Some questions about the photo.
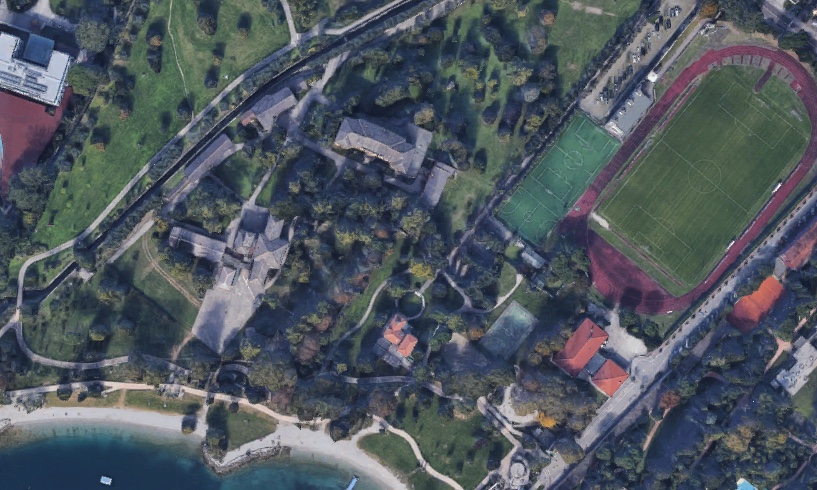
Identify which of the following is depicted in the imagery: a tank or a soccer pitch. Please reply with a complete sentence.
There is a soccer pitch in the scene.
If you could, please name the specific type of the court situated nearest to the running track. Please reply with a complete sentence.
I'd identify the court situated nearest to the running track as a tennis court.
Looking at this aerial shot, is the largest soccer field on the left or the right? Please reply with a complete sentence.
It is on the right.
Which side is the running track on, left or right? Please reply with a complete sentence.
You can find the running track on the right side of the picture.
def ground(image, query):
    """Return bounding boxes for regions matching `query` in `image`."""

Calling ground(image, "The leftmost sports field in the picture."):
[498,112,622,246]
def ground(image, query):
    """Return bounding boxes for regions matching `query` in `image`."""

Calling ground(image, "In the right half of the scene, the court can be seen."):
[480,301,538,359]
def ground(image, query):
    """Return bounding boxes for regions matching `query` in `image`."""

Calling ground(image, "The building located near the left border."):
[0,33,74,105]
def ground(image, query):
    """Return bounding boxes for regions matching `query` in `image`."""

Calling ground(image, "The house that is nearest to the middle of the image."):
[420,163,457,208]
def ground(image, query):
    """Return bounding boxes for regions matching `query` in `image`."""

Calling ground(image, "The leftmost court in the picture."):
[0,86,74,197]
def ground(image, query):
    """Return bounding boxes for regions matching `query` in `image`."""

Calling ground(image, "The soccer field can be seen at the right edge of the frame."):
[590,66,815,296]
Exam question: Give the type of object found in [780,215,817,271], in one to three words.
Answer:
house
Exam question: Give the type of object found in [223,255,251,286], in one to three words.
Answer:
building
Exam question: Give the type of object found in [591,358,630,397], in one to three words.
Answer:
house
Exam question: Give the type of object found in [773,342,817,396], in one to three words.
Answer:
building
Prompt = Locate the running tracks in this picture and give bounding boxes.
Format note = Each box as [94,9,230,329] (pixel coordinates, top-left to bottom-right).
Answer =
[558,42,817,314]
